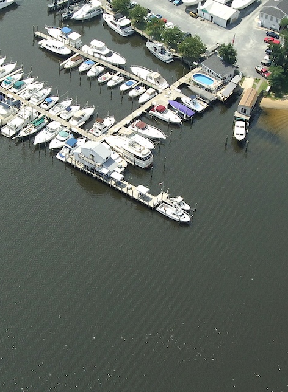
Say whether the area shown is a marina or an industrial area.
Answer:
marina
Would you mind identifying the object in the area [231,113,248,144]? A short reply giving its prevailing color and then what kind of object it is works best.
white boat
